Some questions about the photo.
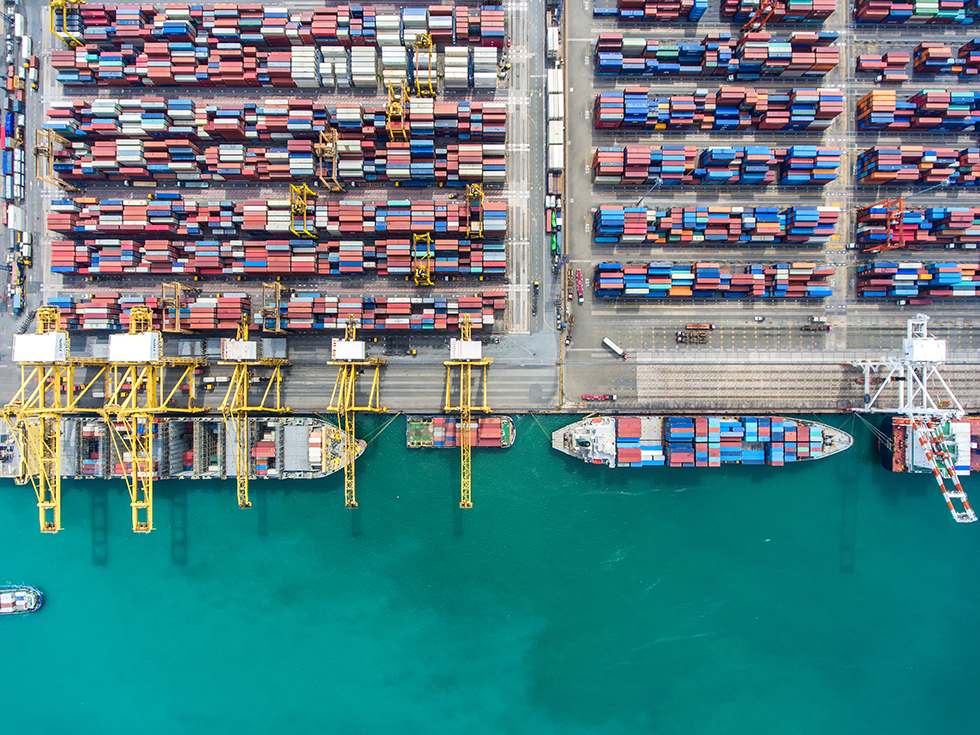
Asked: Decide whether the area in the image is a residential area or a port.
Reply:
port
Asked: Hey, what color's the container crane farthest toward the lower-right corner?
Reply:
white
